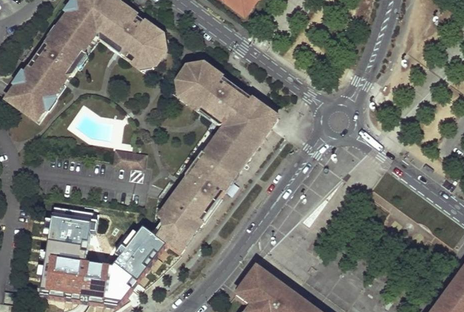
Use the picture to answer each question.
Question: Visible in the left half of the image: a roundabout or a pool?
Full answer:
Looking in the left half of the image, you will find a pool.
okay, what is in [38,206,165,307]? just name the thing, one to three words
building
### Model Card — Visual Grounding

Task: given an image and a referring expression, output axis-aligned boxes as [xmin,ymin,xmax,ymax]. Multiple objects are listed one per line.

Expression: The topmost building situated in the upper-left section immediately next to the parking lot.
[3,0,168,125]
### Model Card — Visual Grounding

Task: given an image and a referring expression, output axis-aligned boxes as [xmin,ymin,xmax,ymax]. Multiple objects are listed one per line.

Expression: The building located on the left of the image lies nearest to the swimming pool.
[114,150,147,170]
